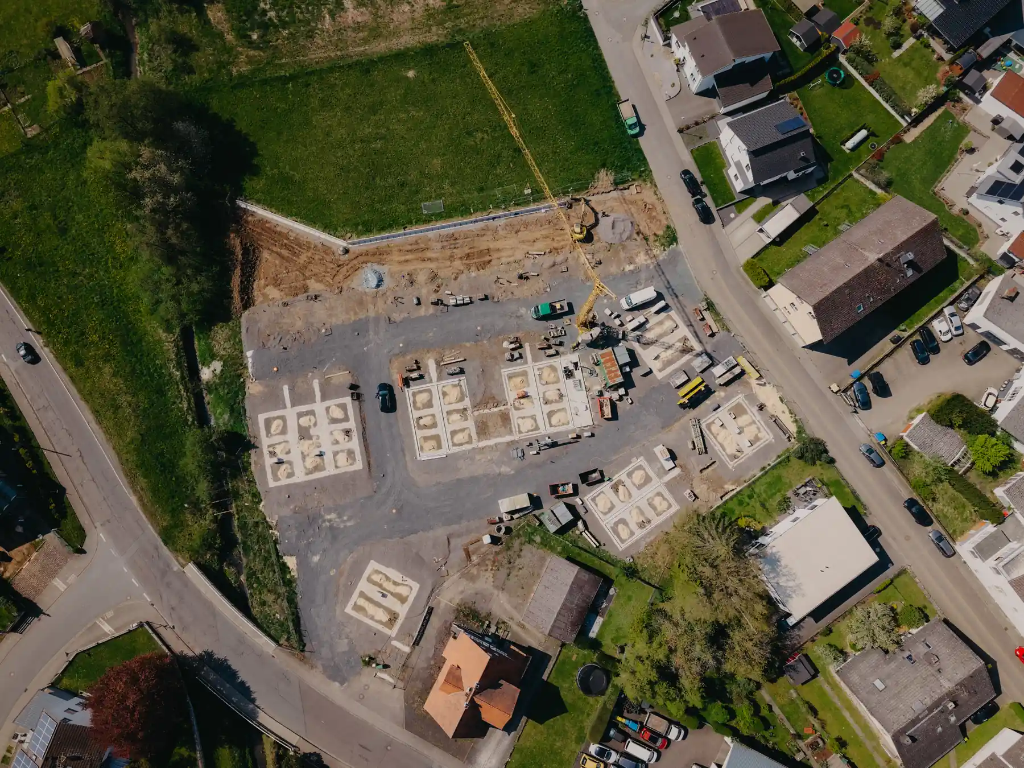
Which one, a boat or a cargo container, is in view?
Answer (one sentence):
Looking from above, you can make out a cargo container.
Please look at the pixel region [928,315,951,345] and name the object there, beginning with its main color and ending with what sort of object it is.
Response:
white car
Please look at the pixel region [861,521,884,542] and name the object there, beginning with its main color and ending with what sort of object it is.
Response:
black car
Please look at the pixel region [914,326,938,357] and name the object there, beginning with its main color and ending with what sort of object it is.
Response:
black car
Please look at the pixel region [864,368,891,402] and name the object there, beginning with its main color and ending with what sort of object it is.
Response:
black truck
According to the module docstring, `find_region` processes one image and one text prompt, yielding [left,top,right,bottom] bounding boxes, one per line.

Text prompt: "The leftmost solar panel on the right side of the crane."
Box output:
[775,114,807,134]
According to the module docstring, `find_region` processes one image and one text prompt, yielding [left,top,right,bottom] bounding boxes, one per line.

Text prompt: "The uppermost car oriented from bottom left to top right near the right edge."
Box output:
[953,284,981,313]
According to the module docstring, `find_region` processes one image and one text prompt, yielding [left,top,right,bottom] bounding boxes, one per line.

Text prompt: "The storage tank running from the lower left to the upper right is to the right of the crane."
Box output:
[840,123,871,153]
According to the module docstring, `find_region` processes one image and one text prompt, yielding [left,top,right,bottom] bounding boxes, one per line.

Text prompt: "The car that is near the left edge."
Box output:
[18,340,40,365]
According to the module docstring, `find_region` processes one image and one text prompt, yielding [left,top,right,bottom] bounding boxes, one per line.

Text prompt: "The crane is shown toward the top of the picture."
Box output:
[462,39,618,347]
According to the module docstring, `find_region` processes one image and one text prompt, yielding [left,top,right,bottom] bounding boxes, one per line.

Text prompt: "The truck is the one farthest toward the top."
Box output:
[617,99,643,141]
